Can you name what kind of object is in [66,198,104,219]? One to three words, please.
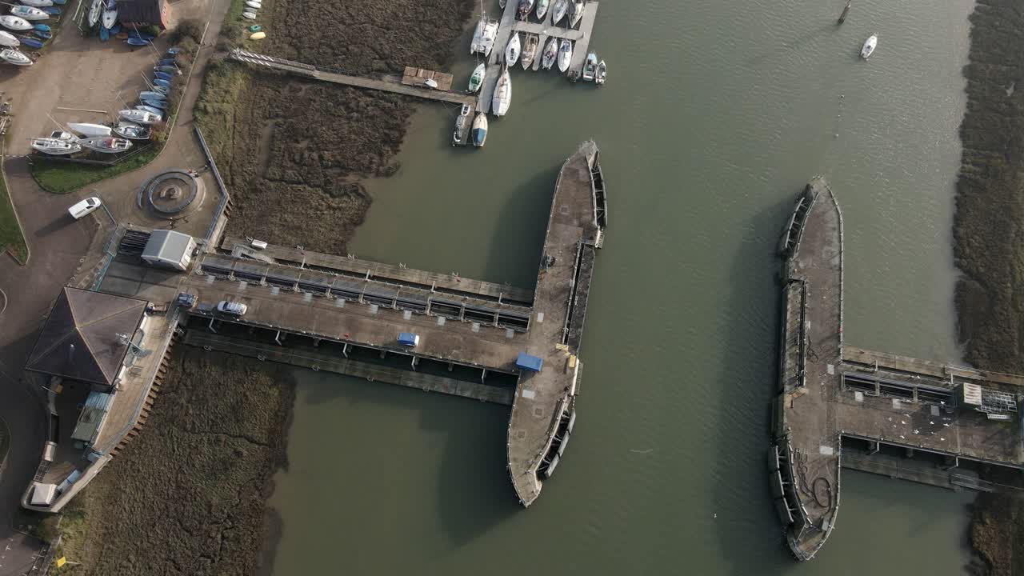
vehicle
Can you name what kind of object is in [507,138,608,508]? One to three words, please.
pier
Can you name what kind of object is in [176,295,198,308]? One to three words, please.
vehicle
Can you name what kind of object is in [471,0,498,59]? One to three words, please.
boat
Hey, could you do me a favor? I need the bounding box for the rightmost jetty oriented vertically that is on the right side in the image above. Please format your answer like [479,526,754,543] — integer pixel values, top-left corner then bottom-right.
[765,175,846,559]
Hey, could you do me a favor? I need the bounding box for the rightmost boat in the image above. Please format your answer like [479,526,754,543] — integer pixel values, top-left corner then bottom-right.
[858,33,877,62]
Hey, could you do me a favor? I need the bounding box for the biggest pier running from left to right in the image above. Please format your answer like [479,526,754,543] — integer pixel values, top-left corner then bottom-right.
[277,59,478,147]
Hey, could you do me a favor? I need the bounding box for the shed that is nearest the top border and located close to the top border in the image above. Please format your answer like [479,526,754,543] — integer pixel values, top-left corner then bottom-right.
[115,0,167,31]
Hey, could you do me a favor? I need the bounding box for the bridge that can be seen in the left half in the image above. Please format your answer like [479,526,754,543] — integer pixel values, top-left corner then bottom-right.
[182,235,537,407]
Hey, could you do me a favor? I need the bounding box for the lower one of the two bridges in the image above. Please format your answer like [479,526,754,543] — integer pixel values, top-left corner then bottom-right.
[828,347,1024,508]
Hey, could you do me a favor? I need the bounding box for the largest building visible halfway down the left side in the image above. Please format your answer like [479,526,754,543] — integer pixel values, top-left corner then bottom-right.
[25,287,151,387]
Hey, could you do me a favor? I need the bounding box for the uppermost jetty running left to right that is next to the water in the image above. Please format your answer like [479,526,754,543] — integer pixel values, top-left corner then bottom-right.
[510,20,583,41]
